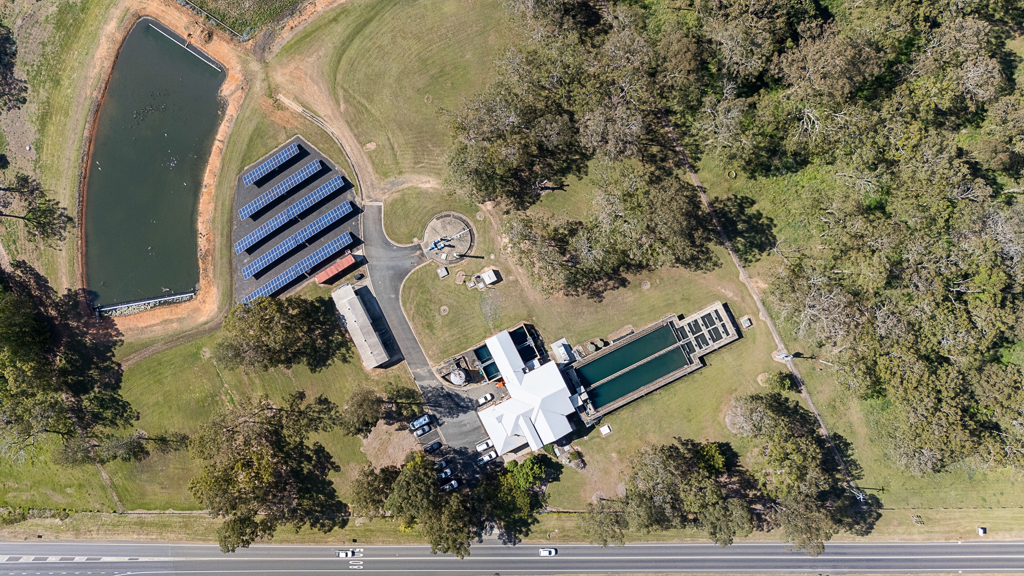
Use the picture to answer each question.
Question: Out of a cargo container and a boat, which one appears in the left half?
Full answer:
It is a cargo container that can be seen in the left half.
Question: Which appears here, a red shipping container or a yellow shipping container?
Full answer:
The image shows a red shipping container.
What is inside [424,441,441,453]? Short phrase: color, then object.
black vehicle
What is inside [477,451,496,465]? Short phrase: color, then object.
white vehicle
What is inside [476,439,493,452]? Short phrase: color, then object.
white vehicle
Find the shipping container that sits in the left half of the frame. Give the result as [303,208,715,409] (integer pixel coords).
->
[315,254,358,284]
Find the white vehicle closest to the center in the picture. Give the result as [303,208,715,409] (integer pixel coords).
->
[474,392,493,406]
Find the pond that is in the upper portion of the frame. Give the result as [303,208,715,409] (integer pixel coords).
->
[84,17,228,319]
